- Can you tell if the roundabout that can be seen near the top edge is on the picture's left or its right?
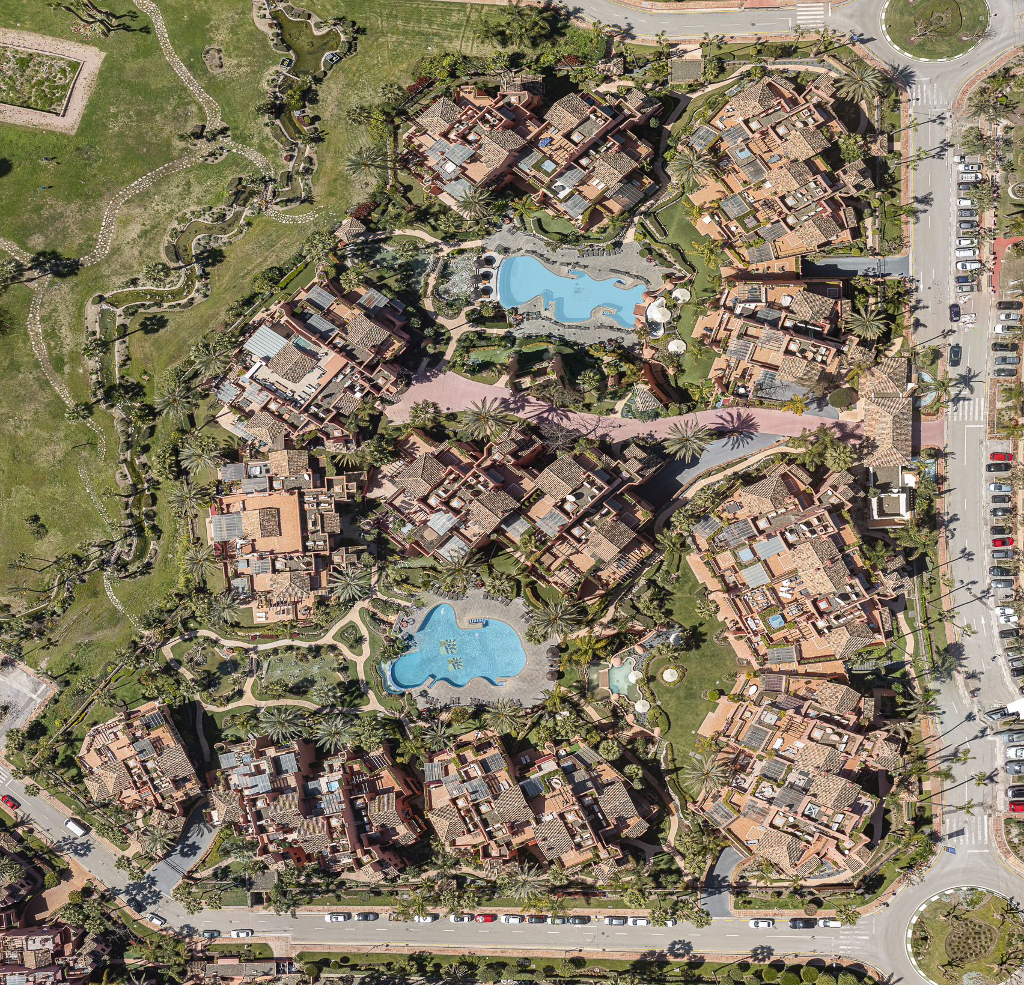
right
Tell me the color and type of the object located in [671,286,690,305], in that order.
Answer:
white umbrella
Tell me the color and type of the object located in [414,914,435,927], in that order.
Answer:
white vehicle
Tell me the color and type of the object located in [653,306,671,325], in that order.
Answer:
white umbrella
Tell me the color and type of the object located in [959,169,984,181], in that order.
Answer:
white vehicle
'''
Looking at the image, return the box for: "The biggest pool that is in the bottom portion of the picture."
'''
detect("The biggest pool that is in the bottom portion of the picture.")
[387,602,529,692]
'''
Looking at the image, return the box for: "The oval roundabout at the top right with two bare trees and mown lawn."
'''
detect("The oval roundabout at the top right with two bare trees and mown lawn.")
[879,0,992,63]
